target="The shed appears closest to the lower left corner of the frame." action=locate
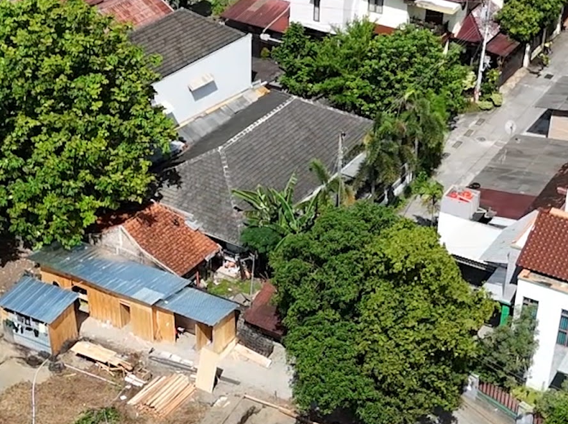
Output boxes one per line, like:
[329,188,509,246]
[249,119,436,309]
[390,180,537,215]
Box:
[0,276,79,357]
